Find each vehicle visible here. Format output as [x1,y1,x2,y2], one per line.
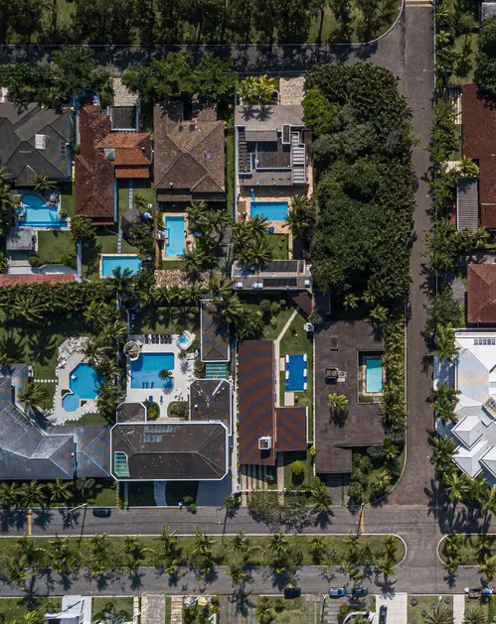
[352,587,369,595]
[92,507,110,515]
[328,587,346,595]
[283,588,301,597]
[378,607,387,624]
[479,587,495,595]
[462,587,481,597]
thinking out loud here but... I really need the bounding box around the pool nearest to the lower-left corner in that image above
[61,394,81,413]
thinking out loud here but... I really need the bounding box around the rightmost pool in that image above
[363,355,385,397]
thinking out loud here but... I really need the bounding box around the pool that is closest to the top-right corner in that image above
[247,199,290,223]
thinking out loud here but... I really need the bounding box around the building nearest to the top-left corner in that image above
[0,101,75,186]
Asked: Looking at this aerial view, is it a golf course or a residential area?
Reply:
residential area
